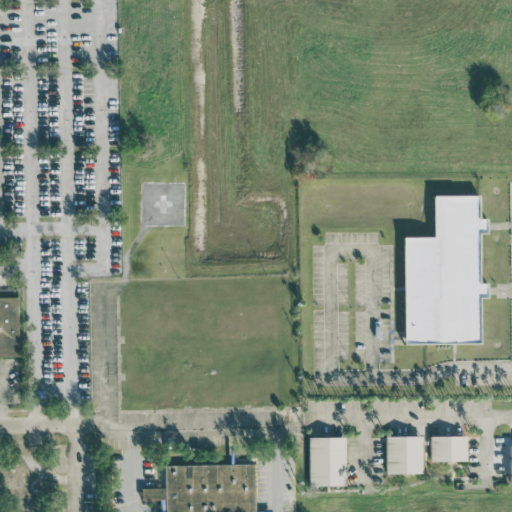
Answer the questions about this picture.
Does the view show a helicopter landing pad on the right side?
No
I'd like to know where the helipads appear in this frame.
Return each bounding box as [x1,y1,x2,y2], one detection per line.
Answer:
[142,183,186,226]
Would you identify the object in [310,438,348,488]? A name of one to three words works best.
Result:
house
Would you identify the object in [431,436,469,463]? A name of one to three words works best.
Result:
house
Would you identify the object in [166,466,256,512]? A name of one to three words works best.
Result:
building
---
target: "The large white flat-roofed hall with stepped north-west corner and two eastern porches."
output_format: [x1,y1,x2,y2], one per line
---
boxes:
[396,195,491,347]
